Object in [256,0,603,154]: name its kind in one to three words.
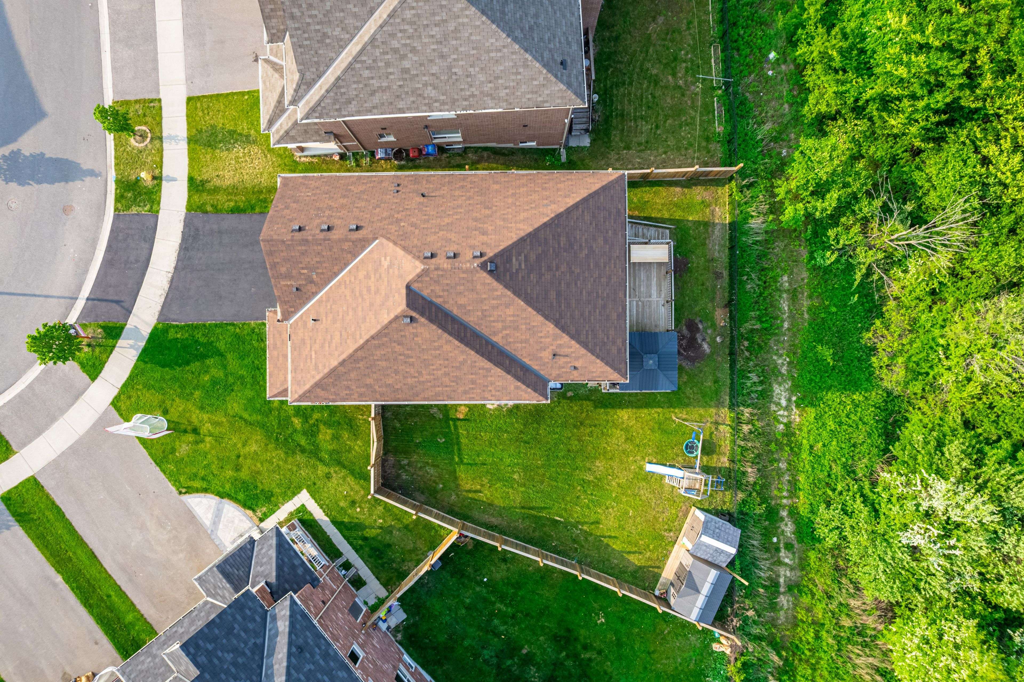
house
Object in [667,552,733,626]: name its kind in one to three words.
shed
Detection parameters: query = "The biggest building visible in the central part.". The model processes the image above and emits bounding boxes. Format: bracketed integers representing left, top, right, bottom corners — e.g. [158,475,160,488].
[260,169,630,406]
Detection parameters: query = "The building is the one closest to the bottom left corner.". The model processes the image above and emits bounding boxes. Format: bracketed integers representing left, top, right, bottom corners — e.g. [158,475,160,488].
[114,514,431,682]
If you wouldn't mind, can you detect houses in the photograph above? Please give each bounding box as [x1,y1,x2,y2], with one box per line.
[256,0,603,154]
[114,514,431,682]
[260,169,630,406]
